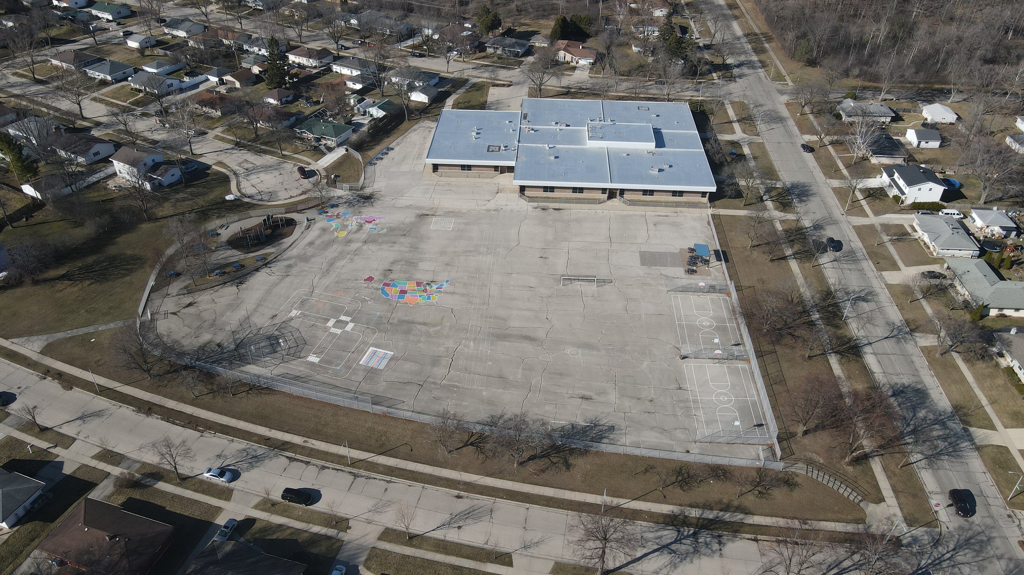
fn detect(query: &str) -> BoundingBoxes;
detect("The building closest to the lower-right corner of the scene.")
[989,331,1024,389]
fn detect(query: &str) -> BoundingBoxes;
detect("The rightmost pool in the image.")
[940,175,966,191]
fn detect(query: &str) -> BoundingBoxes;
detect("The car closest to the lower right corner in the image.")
[950,484,978,515]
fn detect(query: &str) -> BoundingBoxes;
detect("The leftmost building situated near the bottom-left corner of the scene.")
[0,463,47,530]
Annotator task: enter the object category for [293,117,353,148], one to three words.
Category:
house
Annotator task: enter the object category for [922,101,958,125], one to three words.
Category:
building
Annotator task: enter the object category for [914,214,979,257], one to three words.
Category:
house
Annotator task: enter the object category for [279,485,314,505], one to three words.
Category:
car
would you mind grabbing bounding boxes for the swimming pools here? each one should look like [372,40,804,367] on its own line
[183,71,201,80]
[940,175,966,191]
